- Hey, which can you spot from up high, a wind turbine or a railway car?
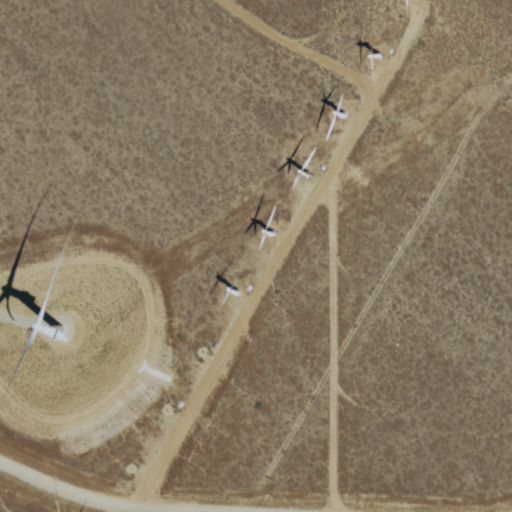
wind turbine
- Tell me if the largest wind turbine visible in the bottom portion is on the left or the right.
left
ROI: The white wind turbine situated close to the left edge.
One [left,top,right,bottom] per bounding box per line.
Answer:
[4,216,78,408]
